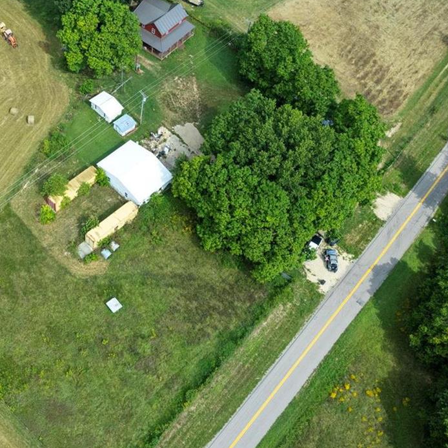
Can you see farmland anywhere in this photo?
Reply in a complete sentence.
Yes, farmland shows up in the scene.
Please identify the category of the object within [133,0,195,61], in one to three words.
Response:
house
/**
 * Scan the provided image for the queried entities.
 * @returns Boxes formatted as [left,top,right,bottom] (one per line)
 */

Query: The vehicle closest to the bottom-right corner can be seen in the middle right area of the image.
[323,247,343,275]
